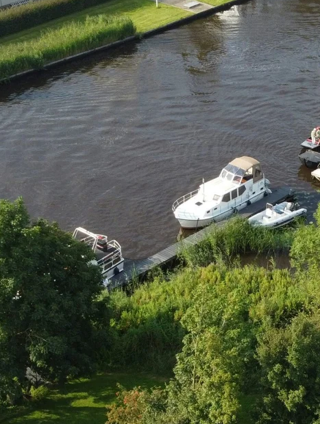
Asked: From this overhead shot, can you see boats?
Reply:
Yes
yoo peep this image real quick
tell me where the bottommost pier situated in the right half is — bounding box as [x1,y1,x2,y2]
[126,185,303,281]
